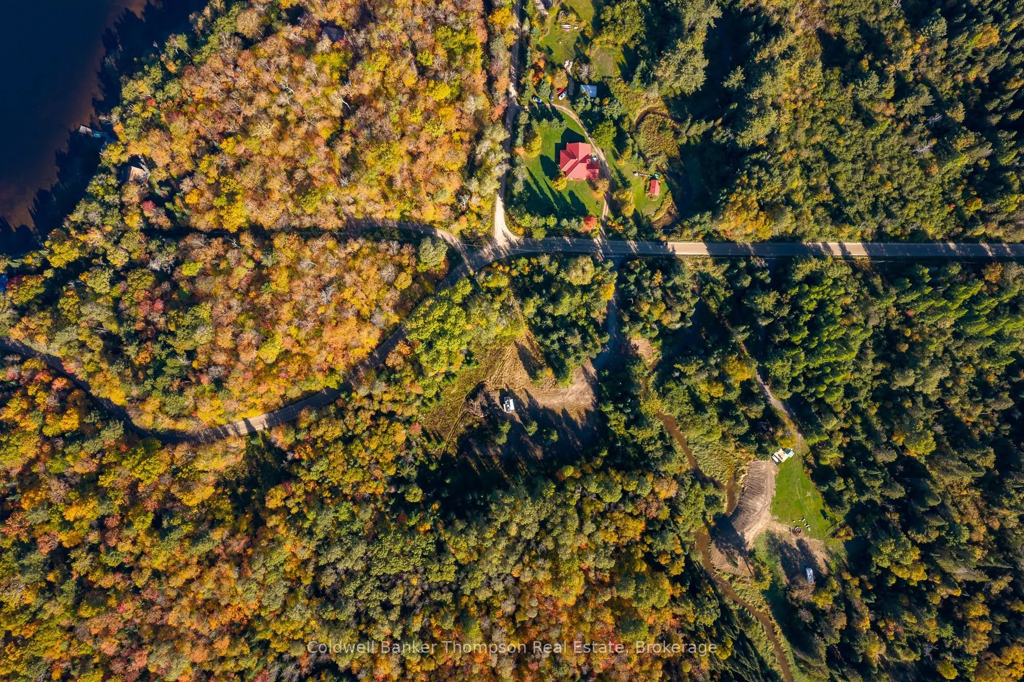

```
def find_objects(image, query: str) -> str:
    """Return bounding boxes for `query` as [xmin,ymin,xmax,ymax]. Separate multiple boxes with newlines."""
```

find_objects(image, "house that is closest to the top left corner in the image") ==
[121,162,145,183]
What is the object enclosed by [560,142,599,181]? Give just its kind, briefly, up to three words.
house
